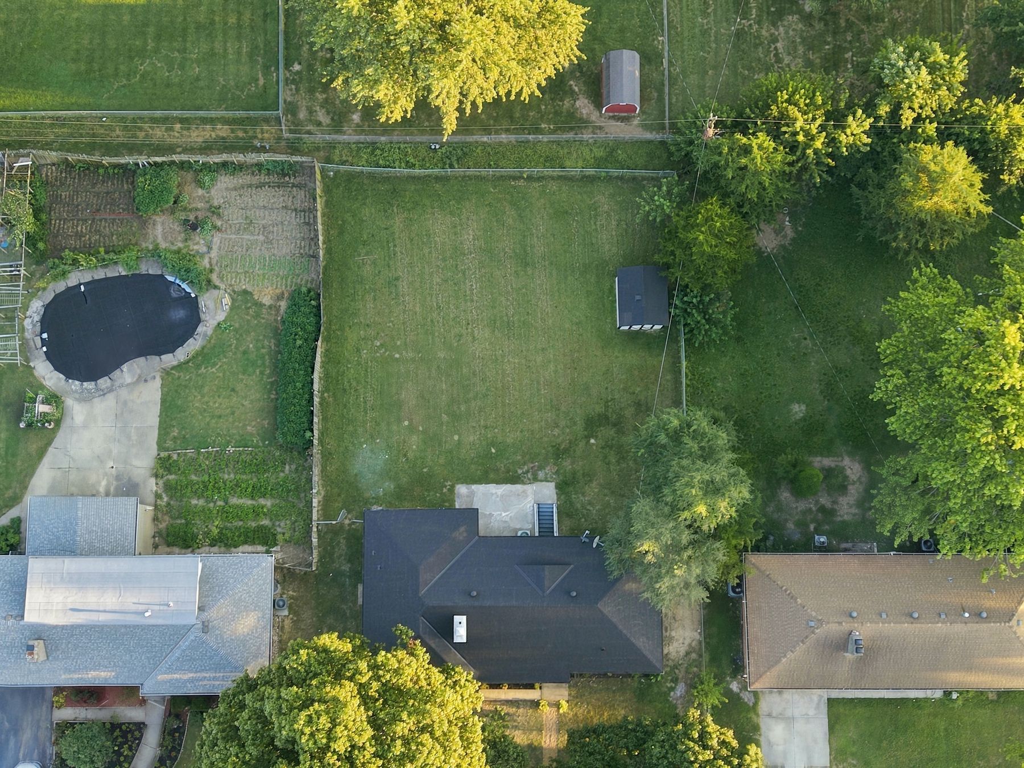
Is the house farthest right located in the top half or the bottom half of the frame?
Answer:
bottom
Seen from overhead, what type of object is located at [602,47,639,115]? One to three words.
shed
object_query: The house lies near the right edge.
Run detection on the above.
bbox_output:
[739,551,1024,693]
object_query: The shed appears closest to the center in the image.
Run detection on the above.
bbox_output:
[613,266,668,334]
